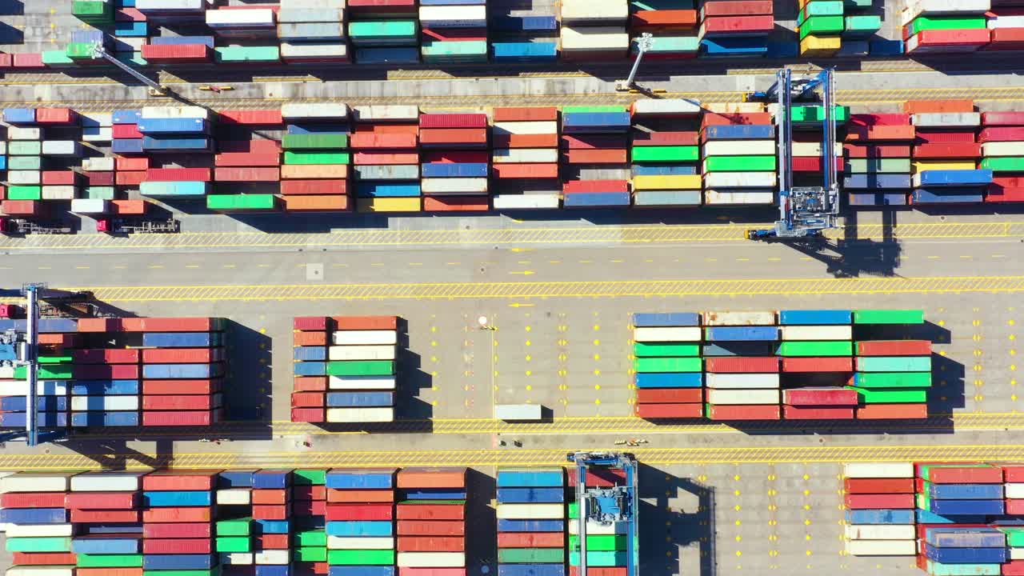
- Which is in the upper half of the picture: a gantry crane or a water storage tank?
gantry crane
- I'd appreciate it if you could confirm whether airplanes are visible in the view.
No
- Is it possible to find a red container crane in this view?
No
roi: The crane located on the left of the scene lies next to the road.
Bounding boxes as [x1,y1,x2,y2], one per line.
[0,283,94,447]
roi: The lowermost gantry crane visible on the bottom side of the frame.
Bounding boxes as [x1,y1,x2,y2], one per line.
[560,450,640,576]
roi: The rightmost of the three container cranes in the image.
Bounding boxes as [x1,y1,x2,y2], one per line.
[743,67,840,241]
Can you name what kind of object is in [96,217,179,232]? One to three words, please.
vehicle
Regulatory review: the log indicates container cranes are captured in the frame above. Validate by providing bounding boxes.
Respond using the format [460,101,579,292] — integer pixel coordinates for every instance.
[560,450,640,576]
[0,283,94,447]
[743,67,840,241]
